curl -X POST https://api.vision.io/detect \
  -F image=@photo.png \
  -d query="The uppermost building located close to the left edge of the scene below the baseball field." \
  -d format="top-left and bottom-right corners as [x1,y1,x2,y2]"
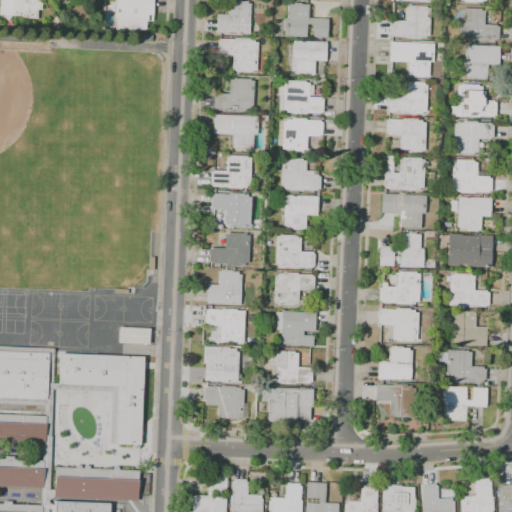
[0,352,50,400]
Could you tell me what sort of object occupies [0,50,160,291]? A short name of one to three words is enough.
baseball field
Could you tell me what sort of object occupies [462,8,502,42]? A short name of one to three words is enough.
house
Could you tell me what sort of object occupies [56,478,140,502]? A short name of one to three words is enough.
building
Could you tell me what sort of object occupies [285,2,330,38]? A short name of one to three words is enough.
house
